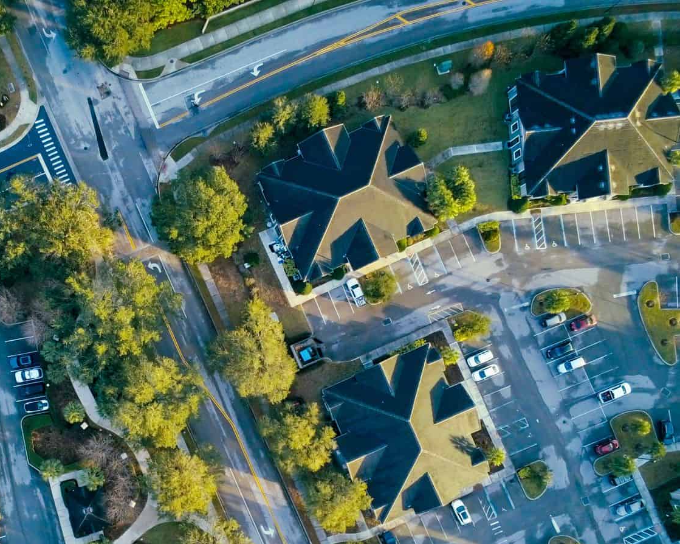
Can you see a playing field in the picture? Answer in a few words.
No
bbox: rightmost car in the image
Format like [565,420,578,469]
[657,419,675,446]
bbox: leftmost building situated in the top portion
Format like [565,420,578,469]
[258,115,437,281]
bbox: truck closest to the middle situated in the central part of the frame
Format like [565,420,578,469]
[345,277,367,310]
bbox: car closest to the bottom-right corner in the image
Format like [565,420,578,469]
[615,498,644,515]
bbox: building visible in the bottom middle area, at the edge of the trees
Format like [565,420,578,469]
[322,342,491,524]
